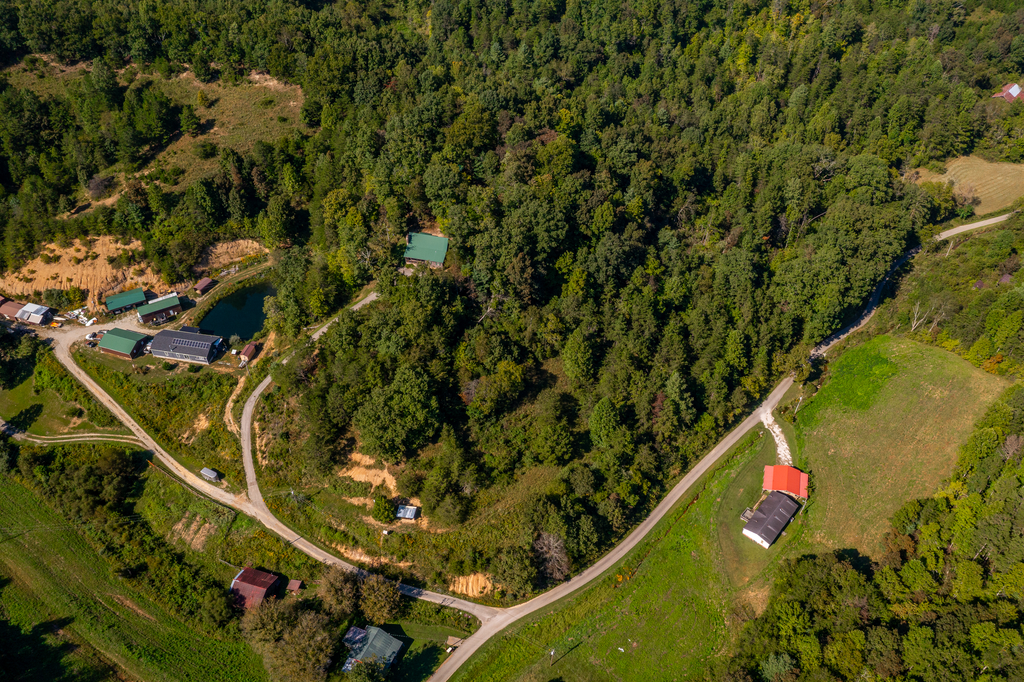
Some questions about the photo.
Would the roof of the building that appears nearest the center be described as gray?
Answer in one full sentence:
No, from above the roof of the building that appears nearest the center looks green.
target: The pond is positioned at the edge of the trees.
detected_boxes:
[199,285,286,341]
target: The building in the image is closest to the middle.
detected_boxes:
[404,232,452,272]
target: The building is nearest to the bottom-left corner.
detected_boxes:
[229,567,279,607]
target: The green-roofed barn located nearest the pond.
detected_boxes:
[137,293,182,322]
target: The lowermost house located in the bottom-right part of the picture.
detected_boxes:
[742,491,798,551]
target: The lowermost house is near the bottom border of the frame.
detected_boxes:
[342,623,403,678]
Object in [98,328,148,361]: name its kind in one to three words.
building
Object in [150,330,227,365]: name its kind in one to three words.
house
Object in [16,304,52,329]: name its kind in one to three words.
shed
